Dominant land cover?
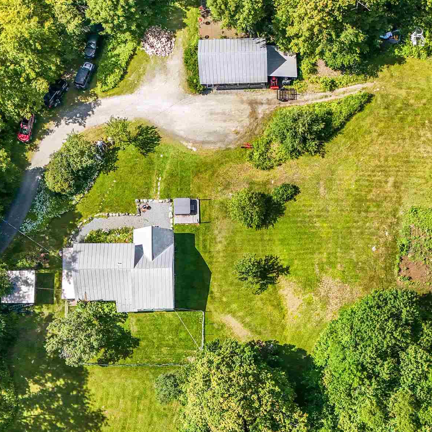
grass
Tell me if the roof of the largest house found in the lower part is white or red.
white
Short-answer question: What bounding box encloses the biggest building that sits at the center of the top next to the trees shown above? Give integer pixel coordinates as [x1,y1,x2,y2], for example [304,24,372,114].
[198,39,267,92]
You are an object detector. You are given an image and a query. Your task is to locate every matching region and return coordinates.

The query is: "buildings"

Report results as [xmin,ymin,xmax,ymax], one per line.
[198,39,267,92]
[62,225,176,312]
[1,271,40,303]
